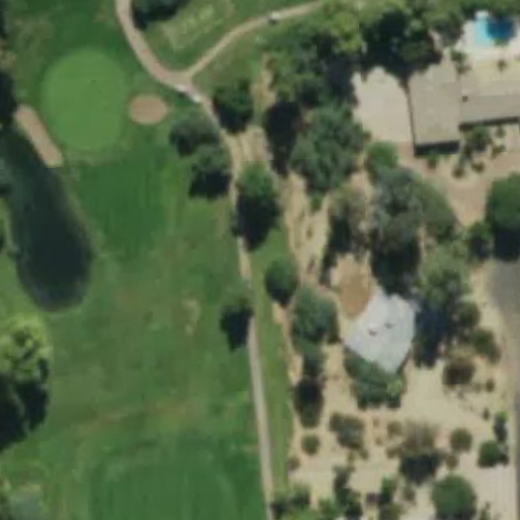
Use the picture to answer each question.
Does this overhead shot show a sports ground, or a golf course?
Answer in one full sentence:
What you see here is a golf course.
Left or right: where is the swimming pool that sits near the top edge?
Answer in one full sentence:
The swimming pool that sits near the top edge sits on the right side.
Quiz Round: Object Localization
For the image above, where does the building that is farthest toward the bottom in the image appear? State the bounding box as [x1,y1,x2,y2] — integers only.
[343,286,417,372]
